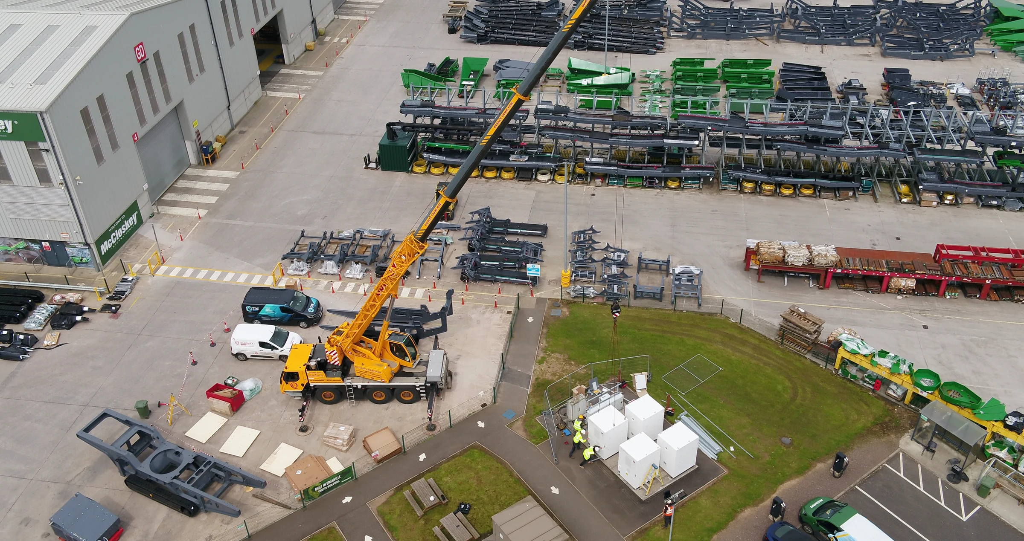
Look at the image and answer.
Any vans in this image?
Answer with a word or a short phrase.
Yes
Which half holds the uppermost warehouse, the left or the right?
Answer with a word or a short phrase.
left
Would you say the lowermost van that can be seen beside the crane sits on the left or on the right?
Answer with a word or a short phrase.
left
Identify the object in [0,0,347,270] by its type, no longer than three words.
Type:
warehouse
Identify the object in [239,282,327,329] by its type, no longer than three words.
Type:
van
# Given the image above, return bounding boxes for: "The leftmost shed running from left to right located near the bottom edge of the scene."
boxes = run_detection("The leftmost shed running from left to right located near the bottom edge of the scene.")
[474,495,573,541]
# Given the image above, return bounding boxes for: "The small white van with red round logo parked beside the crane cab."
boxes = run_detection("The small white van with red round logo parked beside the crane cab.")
[225,321,306,364]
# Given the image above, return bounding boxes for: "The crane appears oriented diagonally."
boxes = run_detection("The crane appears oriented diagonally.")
[283,0,599,434]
